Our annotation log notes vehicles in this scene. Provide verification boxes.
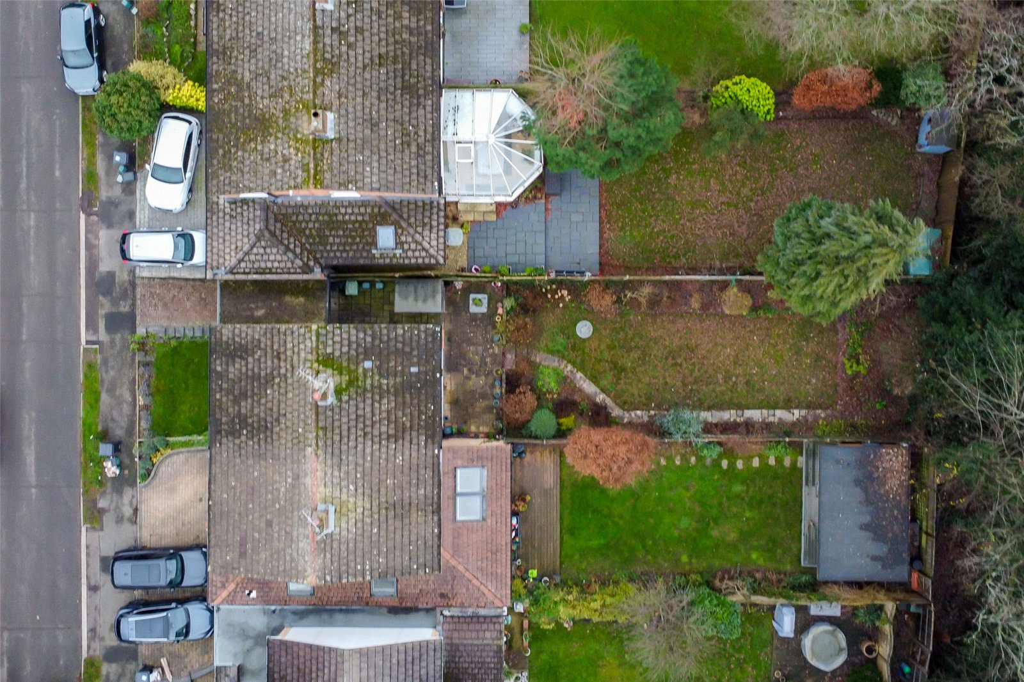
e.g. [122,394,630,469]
[146,112,204,214]
[110,543,208,595]
[115,594,215,649]
[55,1,108,98]
[120,225,208,273]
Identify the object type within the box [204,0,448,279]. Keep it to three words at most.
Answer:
house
